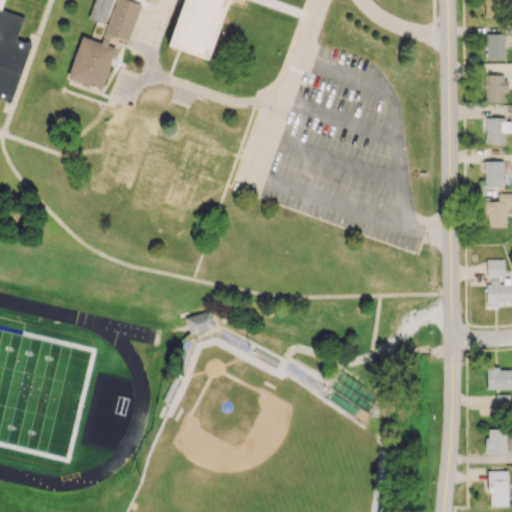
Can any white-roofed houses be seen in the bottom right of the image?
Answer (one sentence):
Yes, the scene does show a white-roofed house in the bottom right of the image.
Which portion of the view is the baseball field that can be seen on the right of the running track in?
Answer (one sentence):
The baseball field that can be seen on the right of the running track is in the bottom part of the image.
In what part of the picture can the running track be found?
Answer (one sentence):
The running track sits in the bottom left section of the image.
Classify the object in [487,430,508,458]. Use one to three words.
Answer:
house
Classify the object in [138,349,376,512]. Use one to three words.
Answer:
baseball field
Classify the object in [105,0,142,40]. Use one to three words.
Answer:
building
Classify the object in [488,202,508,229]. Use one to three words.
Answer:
house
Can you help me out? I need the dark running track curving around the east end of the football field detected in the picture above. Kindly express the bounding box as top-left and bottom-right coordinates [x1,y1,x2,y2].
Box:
[0,293,158,491]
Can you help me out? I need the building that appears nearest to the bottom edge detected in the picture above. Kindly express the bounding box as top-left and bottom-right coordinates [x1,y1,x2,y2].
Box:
[489,470,510,509]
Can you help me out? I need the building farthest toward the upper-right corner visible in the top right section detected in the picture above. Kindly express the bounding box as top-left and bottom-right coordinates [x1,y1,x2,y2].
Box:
[488,34,506,62]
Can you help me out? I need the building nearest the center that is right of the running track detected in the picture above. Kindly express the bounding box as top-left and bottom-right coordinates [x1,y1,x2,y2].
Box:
[187,312,215,336]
